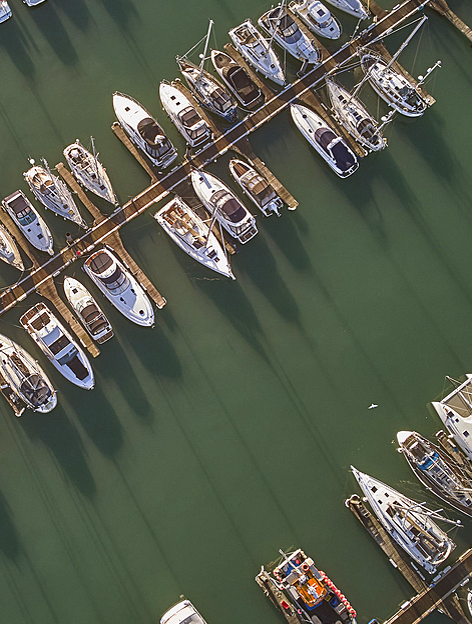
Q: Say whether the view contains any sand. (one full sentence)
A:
No, no sand is visible.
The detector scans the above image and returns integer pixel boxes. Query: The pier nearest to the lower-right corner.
[433,595,466,624]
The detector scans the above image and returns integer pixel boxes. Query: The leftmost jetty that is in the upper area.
[0,207,46,273]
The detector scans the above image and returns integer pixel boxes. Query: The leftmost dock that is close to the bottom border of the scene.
[257,565,302,624]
